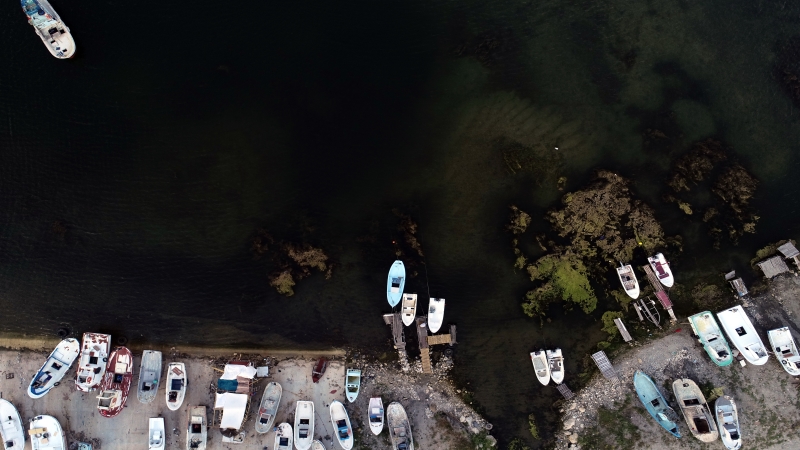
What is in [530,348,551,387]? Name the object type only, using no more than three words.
boat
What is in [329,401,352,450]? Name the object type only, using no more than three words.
boat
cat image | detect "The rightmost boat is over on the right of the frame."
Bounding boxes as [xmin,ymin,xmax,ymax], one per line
[767,324,800,377]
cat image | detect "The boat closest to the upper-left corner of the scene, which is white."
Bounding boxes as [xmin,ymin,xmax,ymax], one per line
[18,0,74,59]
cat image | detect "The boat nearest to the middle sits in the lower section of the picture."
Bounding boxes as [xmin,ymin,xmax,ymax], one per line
[387,261,405,308]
